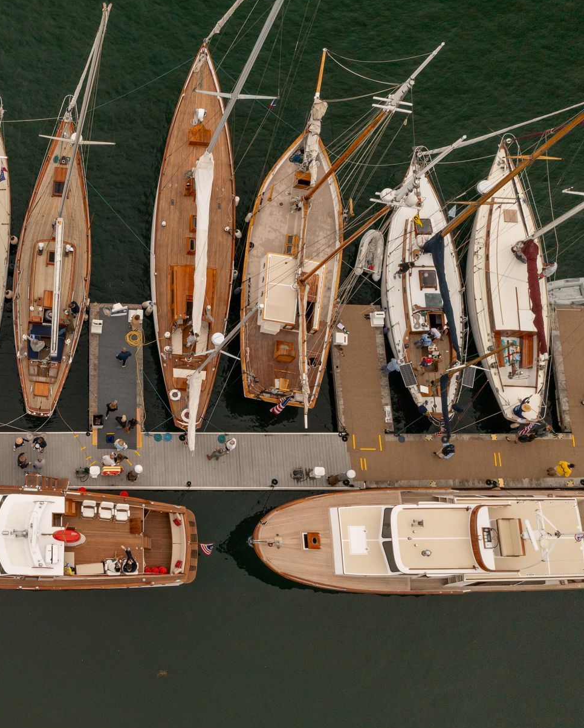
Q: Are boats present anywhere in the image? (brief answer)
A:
Yes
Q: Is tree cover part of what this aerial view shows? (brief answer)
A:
No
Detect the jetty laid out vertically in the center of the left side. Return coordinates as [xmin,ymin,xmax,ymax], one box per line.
[88,304,143,433]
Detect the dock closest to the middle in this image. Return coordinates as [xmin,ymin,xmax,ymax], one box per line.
[333,305,393,433]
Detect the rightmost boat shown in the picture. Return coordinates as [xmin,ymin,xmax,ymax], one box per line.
[548,276,584,306]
